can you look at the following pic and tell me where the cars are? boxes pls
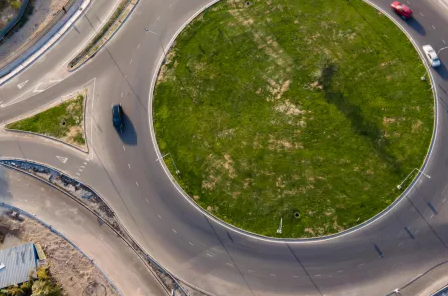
[111,105,126,132]
[390,1,413,21]
[422,46,442,68]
